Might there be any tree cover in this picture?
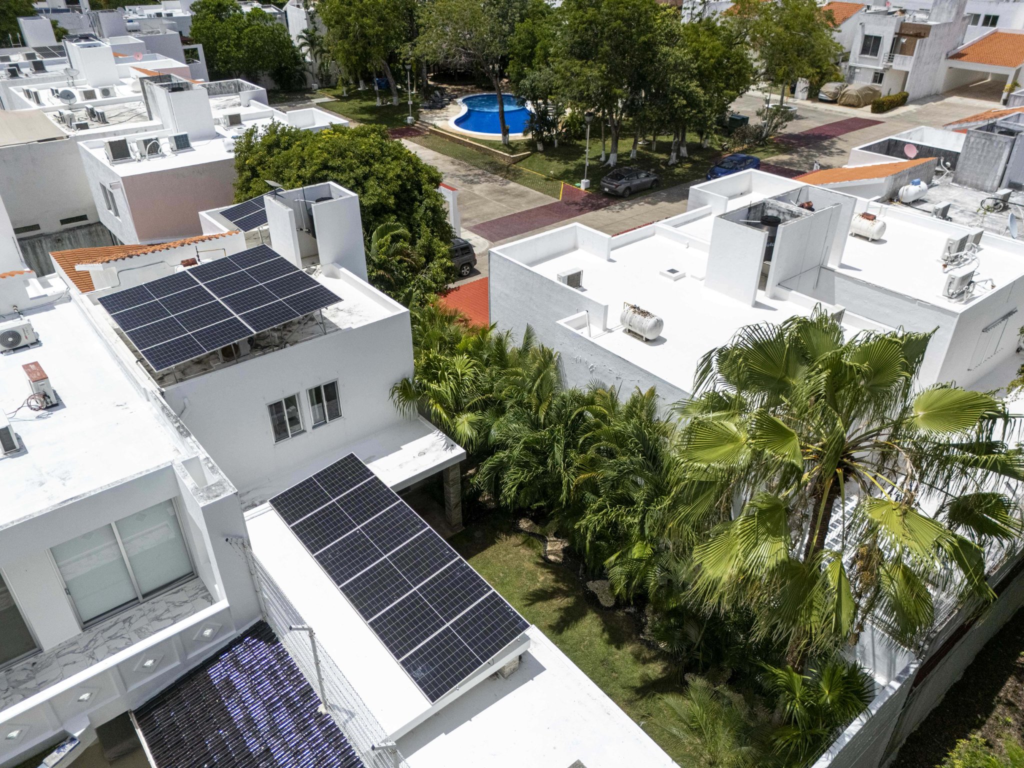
Yes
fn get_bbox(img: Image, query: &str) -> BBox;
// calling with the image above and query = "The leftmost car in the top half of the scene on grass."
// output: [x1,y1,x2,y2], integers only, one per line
[598,165,665,198]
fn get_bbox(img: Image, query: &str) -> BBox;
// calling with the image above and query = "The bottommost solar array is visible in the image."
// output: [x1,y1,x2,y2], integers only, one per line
[267,452,530,702]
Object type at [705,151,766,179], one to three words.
car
